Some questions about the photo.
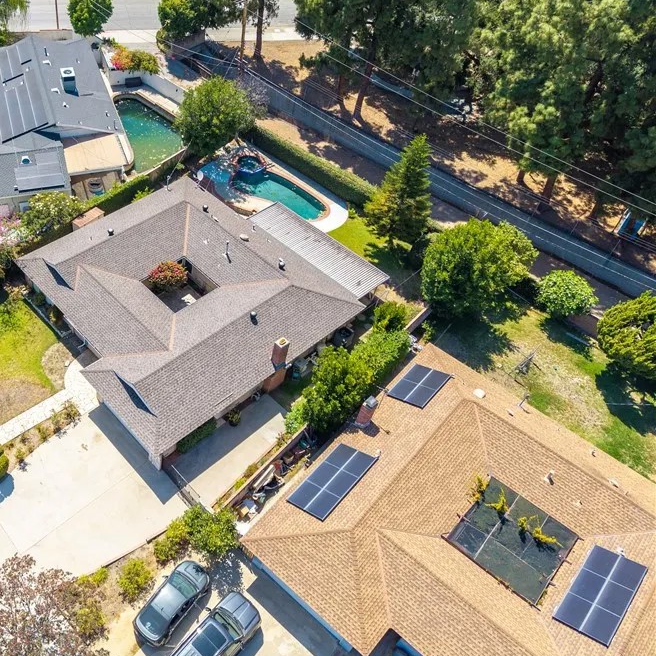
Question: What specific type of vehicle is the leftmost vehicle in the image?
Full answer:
It turns out the leftmost vehicle is an automobile.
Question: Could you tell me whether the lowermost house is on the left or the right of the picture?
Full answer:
The lowermost house sits on the right side.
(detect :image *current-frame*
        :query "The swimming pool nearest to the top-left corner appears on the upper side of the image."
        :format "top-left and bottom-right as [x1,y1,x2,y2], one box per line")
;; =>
[111,91,189,173]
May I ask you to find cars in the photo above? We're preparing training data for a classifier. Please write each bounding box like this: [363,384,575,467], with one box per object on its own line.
[135,561,211,651]
[179,597,263,656]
